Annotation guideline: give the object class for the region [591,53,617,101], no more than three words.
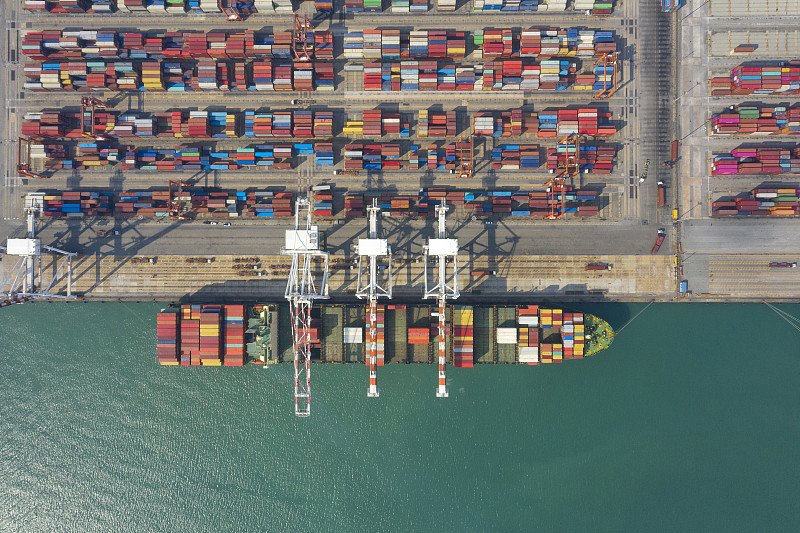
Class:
container crane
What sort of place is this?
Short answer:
port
